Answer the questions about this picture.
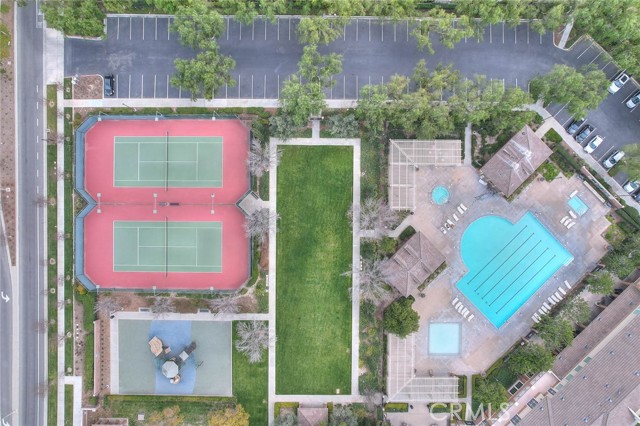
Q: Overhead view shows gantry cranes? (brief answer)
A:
No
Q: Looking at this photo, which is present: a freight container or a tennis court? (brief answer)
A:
tennis court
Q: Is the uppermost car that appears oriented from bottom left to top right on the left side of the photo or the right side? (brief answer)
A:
right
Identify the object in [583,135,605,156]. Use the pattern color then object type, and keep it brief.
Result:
white car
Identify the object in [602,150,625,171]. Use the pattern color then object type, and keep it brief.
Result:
white car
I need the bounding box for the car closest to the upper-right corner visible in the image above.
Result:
[608,71,632,95]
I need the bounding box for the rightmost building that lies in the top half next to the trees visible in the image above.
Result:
[478,125,554,197]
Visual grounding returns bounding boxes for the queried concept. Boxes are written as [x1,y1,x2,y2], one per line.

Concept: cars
[602,150,625,171]
[574,122,596,144]
[626,92,640,112]
[564,116,586,136]
[583,135,605,156]
[631,191,640,206]
[622,176,640,196]
[104,74,116,97]
[608,71,632,95]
